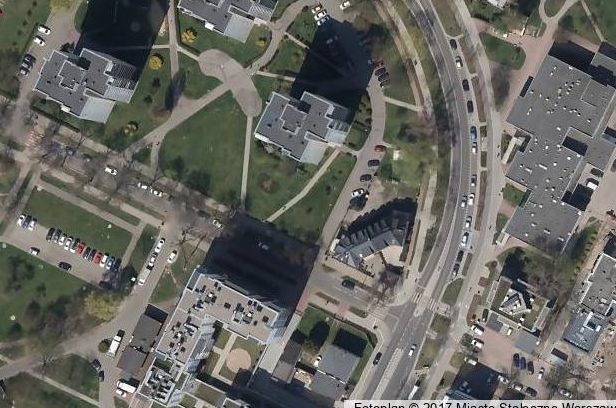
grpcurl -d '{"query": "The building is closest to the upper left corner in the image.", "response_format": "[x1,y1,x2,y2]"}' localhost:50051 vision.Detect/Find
[34,48,141,119]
